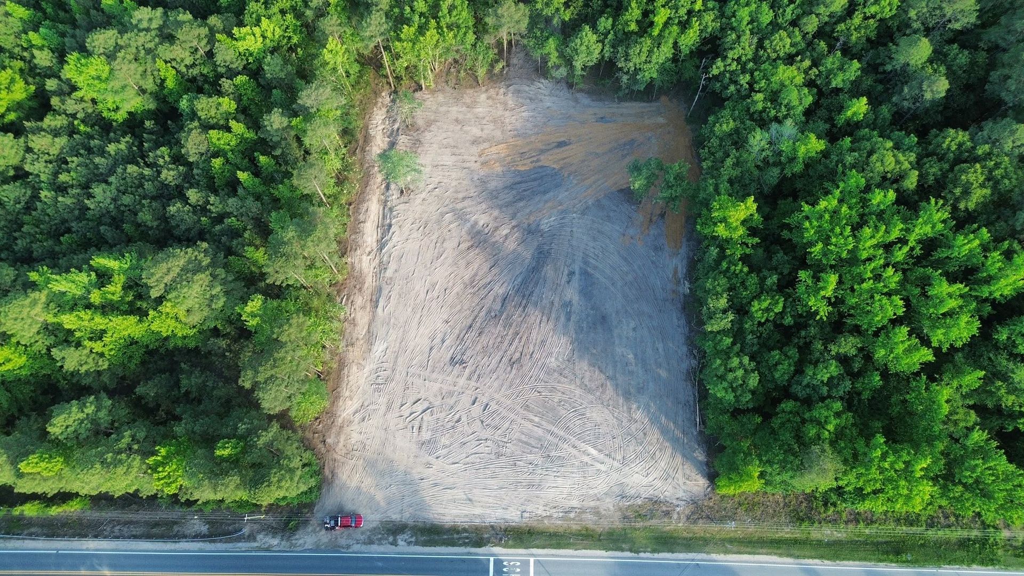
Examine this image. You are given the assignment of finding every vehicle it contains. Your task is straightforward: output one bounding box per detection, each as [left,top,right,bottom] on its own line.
[323,513,365,531]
